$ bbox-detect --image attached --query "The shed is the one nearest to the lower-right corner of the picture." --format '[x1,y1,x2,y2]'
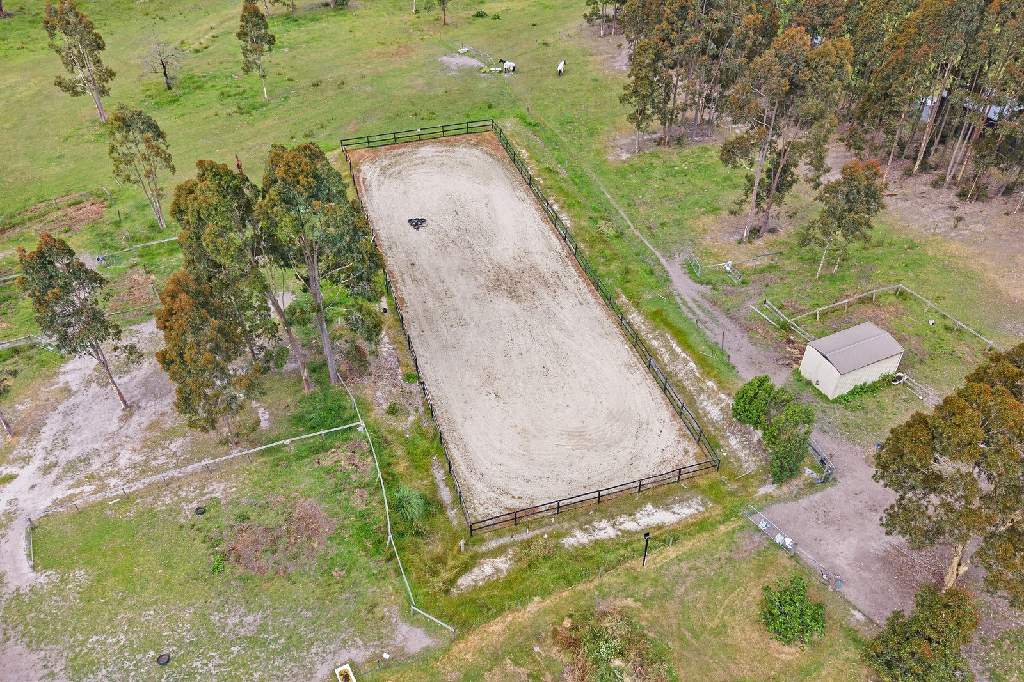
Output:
[798,322,907,400]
